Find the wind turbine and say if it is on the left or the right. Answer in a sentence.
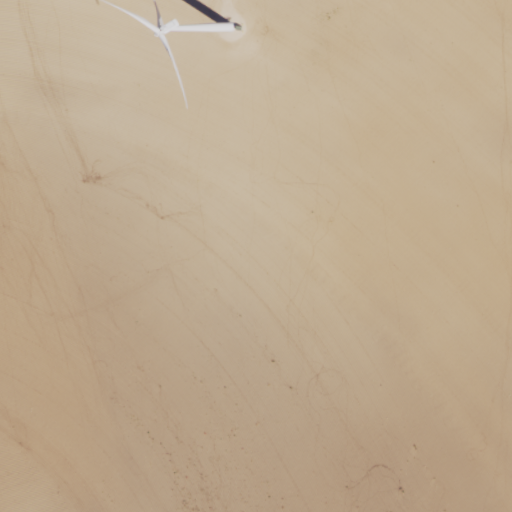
It is on the left.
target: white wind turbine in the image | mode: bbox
[104,0,235,108]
